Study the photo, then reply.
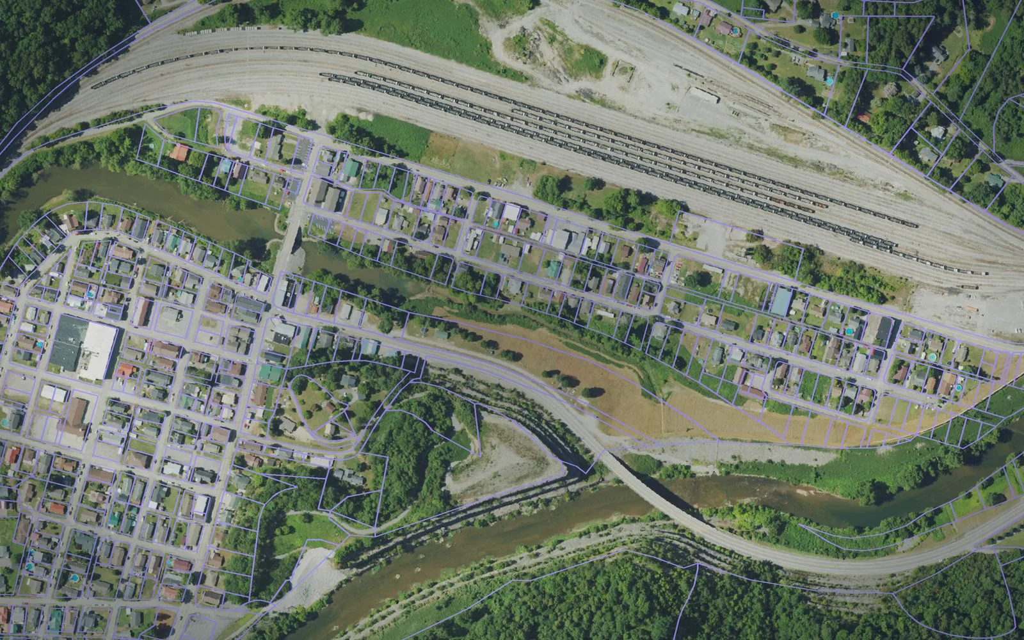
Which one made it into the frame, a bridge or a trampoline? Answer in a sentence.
This aerial view contains a bridge.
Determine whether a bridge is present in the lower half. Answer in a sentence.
Yes, you'll find a bridge in the lower half.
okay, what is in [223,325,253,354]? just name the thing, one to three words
building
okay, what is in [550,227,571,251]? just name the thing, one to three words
building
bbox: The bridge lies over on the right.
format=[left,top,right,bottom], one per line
[609,447,714,536]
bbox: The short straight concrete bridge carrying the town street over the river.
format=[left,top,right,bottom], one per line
[277,206,300,265]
